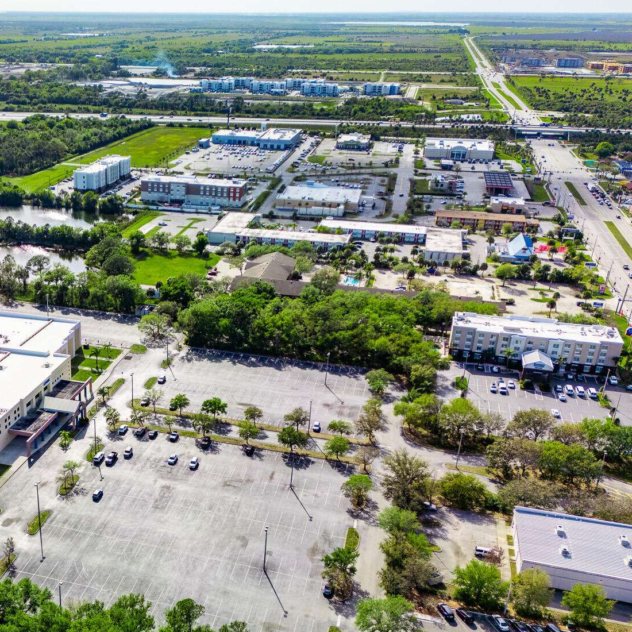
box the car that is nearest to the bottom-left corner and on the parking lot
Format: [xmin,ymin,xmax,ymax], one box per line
[90,487,105,500]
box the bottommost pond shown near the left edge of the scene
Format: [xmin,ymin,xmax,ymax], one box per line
[0,244,87,278]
